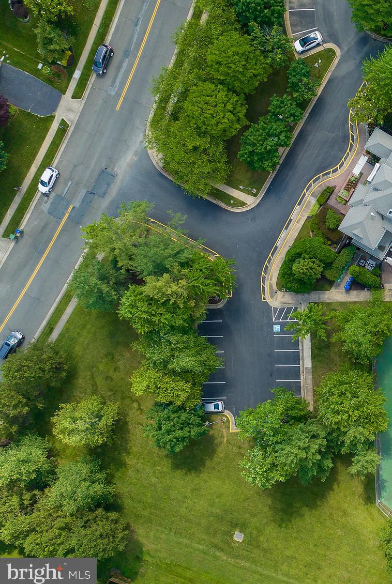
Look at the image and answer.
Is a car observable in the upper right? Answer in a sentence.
Yes, I can see a car in the upper right.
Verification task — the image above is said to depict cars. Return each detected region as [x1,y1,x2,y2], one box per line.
[39,166,59,193]
[295,31,324,53]
[91,44,114,75]
[0,332,24,360]
[198,400,225,412]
